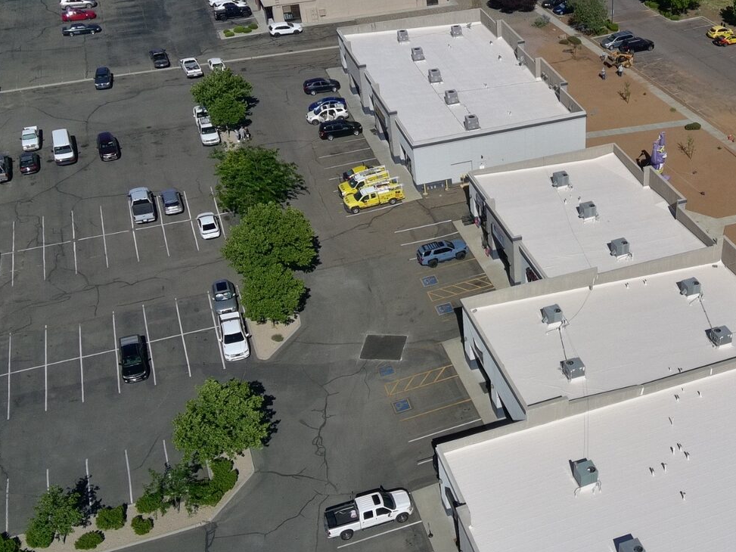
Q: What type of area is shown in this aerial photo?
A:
parking lot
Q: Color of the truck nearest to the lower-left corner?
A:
black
